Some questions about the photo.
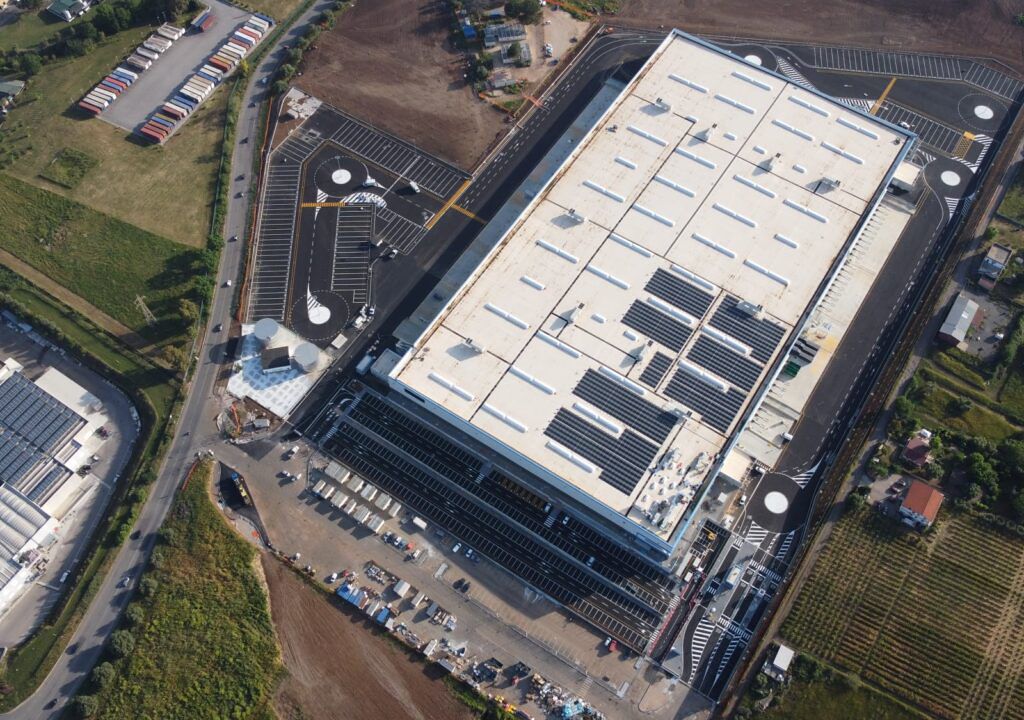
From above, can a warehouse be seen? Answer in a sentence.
Yes, I can see a warehouse in this picture.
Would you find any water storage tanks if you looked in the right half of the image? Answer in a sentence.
No, looking in the right half of the image, there is no water storage tank.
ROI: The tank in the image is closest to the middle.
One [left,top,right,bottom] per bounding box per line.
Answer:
[293,343,323,375]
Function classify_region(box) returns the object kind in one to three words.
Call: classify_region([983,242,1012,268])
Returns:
house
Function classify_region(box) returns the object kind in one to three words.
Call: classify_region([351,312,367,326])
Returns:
vehicle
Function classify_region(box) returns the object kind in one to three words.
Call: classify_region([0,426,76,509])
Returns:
building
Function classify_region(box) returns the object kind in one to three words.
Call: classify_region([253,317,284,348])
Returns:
water tank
